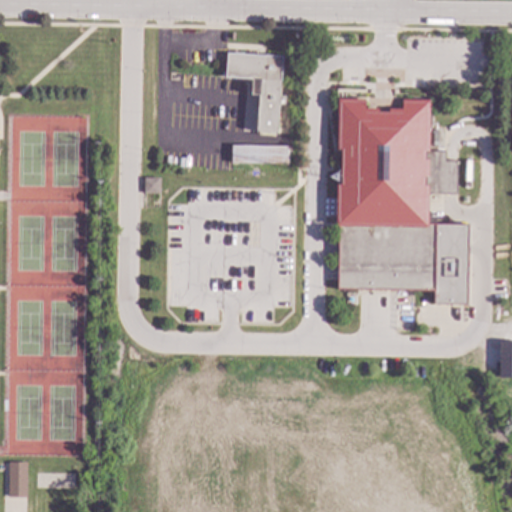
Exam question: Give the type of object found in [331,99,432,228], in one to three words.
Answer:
building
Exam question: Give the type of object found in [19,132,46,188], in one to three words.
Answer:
tennis court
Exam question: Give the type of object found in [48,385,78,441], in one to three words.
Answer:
tennis court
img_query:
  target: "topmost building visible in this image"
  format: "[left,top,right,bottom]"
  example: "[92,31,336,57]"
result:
[227,52,286,134]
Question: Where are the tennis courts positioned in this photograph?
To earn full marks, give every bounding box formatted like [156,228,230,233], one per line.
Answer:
[53,132,80,188]
[14,385,44,441]
[19,132,46,188]
[18,216,44,272]
[52,216,78,272]
[16,300,44,356]
[48,385,78,441]
[50,300,78,356]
